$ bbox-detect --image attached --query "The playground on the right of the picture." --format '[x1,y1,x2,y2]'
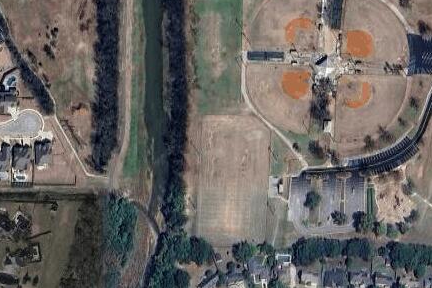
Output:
[378,179,417,222]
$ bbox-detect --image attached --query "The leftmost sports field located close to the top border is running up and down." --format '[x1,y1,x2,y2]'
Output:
[195,0,242,113]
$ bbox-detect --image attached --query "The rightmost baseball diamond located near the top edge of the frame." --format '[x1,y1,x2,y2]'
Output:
[345,0,407,61]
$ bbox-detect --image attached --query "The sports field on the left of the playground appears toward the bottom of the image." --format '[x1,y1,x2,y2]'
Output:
[197,116,269,239]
